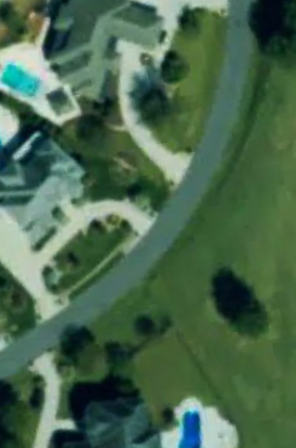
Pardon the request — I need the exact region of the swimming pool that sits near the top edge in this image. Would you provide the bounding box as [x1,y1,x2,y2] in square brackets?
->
[0,20,81,126]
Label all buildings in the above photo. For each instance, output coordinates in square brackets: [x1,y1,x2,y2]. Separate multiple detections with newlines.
[37,0,168,102]
[56,386,166,448]
[45,88,73,114]
[0,127,93,251]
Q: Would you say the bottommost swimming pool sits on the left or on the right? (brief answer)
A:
right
